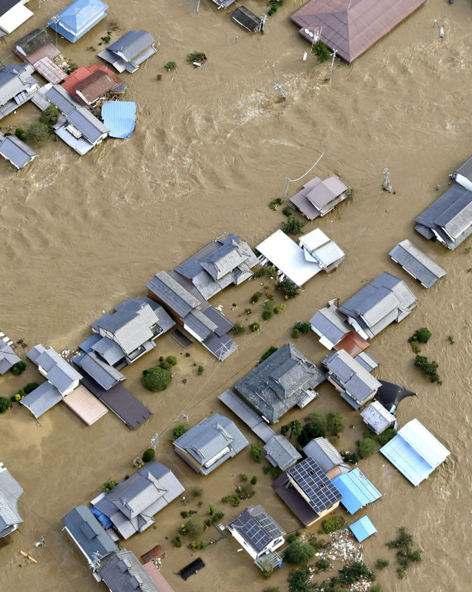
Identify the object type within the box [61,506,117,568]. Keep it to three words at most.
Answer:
house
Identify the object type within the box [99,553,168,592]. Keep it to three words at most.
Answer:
house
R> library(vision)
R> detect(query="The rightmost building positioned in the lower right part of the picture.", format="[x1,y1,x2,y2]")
[379,421,452,488]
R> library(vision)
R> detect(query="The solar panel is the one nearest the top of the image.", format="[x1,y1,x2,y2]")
[289,458,340,511]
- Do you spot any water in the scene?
Yes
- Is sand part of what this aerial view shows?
No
